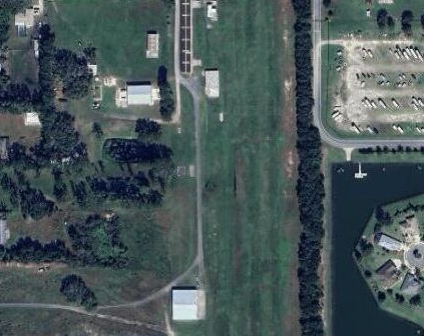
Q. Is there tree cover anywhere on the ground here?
Yes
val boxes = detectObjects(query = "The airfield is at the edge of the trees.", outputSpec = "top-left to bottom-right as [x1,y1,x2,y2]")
[205,0,295,336]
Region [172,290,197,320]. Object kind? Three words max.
hangar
